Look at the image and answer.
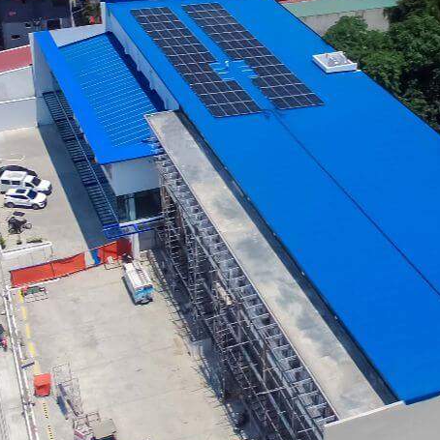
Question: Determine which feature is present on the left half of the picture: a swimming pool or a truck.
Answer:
truck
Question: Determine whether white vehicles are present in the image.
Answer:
Yes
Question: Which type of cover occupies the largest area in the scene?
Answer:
buildings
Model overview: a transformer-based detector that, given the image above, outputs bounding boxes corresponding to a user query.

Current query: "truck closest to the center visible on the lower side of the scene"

[119,248,154,299]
